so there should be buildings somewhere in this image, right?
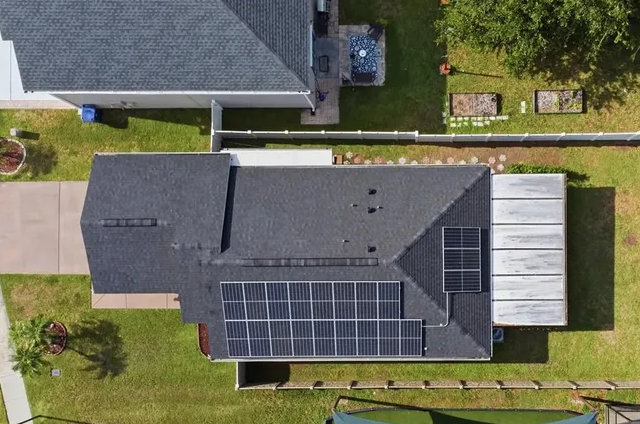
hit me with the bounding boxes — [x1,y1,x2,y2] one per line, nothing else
[79,151,494,364]
[0,0,317,118]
